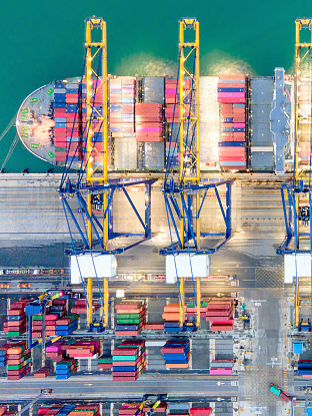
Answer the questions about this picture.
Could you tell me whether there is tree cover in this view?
No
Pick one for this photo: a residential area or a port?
port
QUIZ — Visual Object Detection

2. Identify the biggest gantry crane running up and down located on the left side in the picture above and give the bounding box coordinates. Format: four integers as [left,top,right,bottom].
[54,18,164,332]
